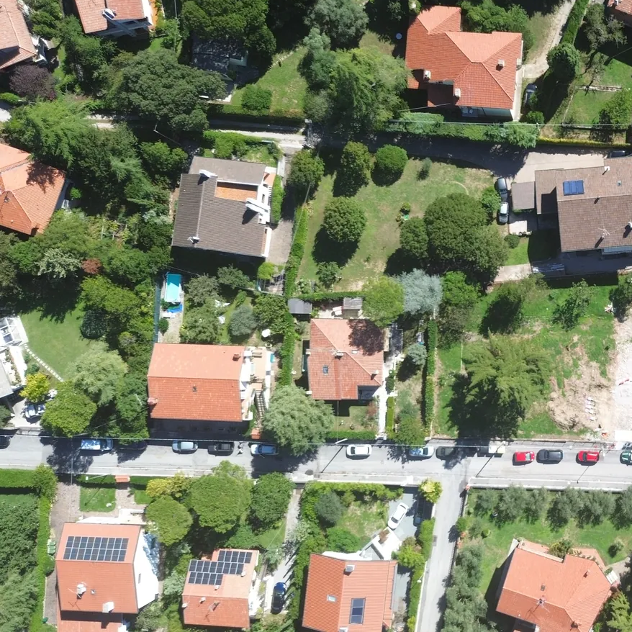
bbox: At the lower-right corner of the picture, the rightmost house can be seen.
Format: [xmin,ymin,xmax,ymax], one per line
[490,532,619,632]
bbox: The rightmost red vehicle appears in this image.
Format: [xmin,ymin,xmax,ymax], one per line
[577,451,599,463]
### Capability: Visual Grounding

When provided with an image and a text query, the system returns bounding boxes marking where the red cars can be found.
[577,451,599,463]
[515,451,535,462]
